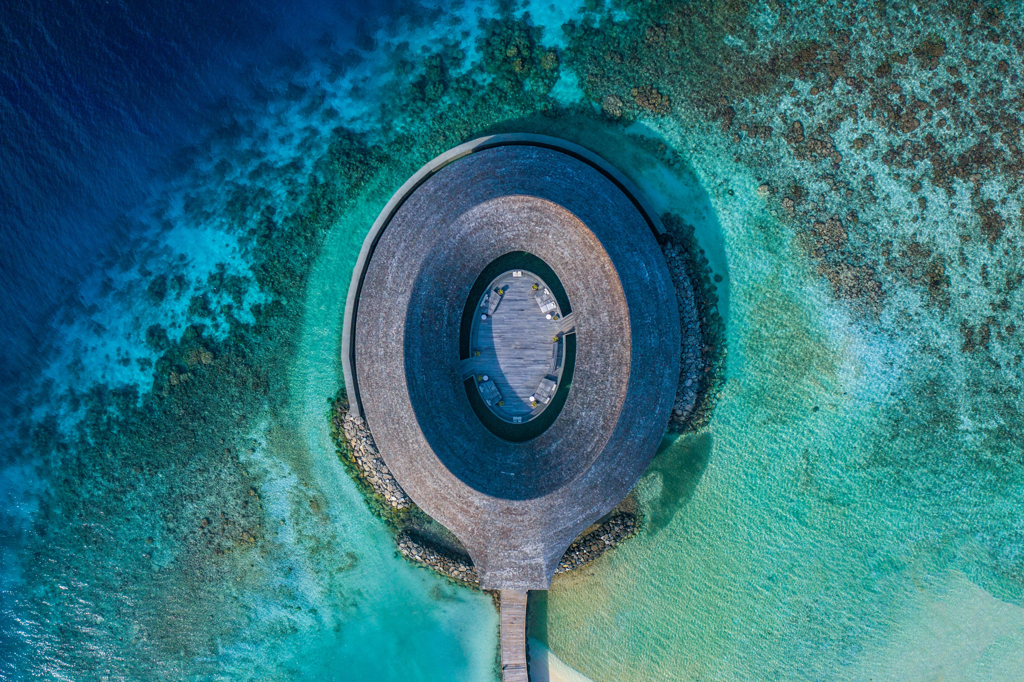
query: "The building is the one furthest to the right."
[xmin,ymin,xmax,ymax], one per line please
[355,145,681,590]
